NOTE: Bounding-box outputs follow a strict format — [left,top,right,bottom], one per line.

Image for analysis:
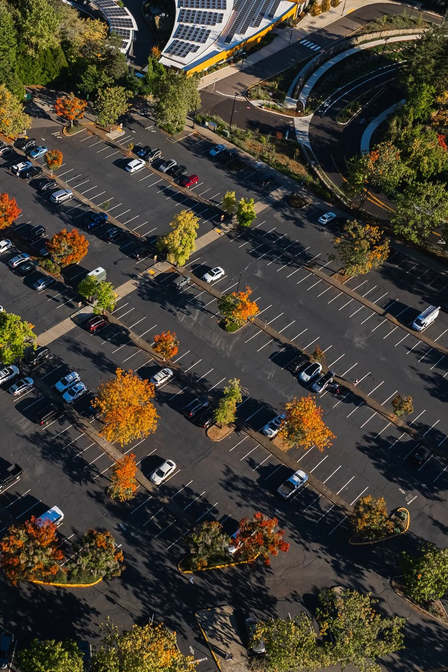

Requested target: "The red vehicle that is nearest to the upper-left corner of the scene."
[181,175,201,189]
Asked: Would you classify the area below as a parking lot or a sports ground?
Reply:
parking lot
